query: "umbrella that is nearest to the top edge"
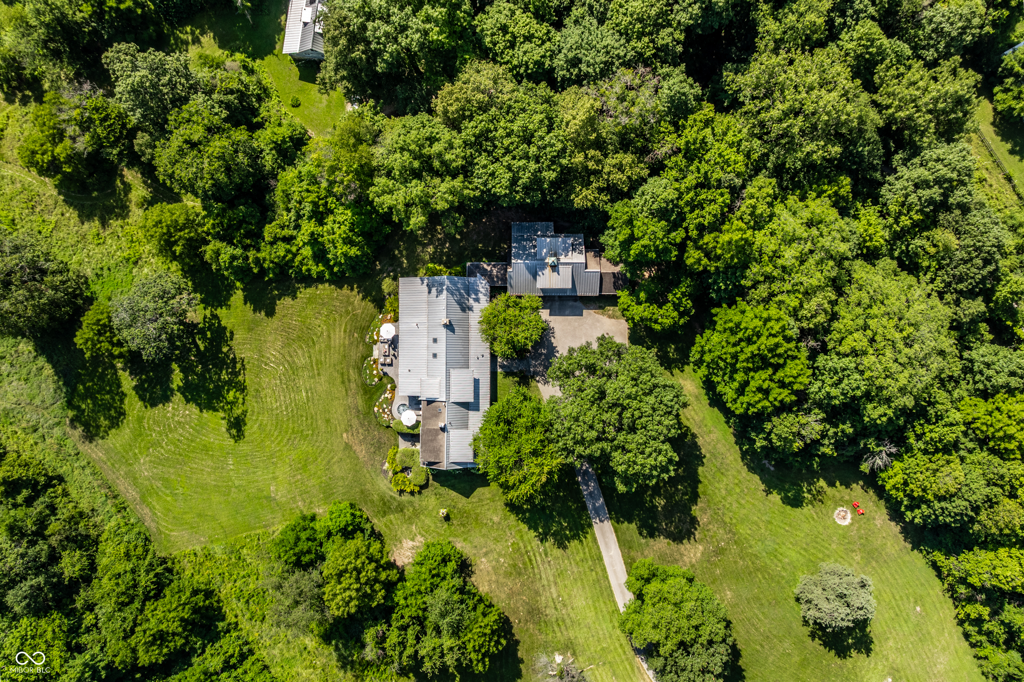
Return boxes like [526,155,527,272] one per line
[381,324,395,338]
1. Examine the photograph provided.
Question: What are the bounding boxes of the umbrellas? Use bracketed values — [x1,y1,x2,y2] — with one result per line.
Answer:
[381,324,395,338]
[402,411,416,425]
